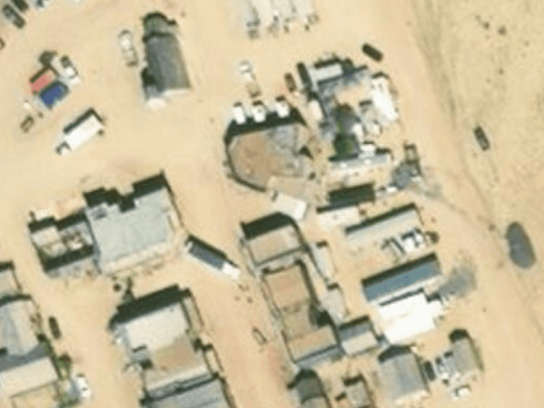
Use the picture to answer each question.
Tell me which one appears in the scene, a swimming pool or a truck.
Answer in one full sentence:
Visible in the photo is a truck.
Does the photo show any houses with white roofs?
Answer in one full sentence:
Yes, a house with a white roof can be made out from above.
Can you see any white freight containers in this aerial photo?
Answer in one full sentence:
No, I find no white freight container anywhere in the image.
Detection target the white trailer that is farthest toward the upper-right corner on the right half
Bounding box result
[372,74,401,124]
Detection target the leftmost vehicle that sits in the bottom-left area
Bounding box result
[47,317,62,340]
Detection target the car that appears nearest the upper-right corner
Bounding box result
[473,127,489,151]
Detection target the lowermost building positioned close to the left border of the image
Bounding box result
[0,344,58,400]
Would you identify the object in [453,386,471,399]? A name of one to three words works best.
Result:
vehicle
